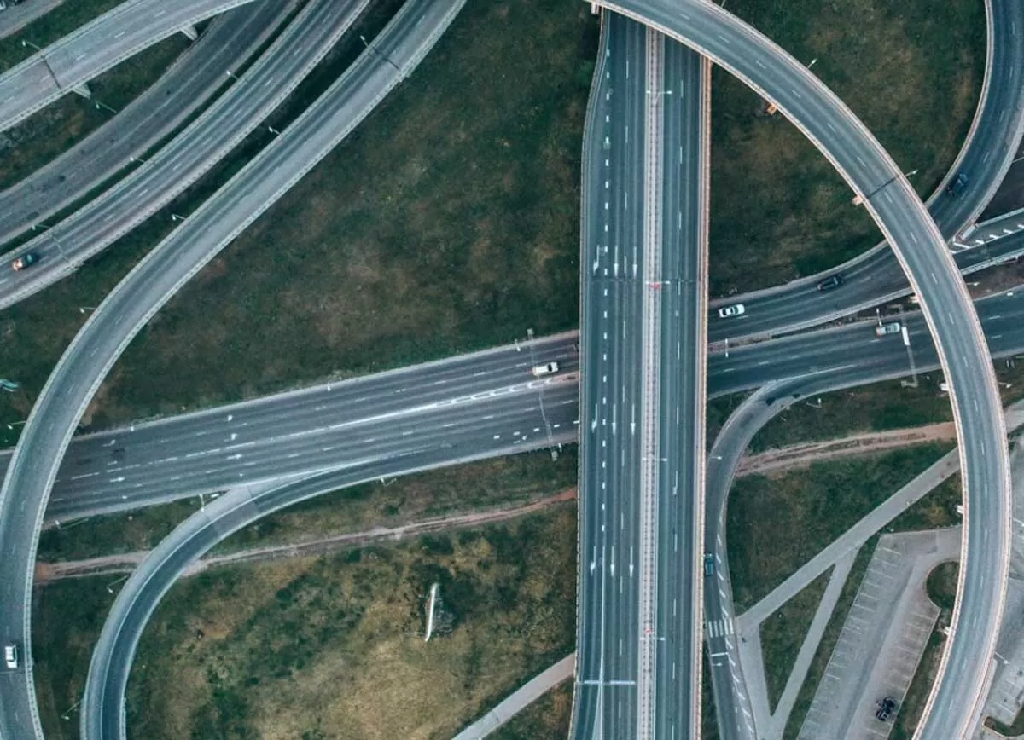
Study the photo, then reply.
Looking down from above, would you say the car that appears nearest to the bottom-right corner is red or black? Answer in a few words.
black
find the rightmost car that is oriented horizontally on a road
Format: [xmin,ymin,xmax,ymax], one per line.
[876,322,903,335]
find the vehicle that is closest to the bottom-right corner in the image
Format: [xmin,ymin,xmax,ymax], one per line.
[876,697,897,725]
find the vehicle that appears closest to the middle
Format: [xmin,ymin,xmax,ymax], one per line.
[531,361,559,376]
